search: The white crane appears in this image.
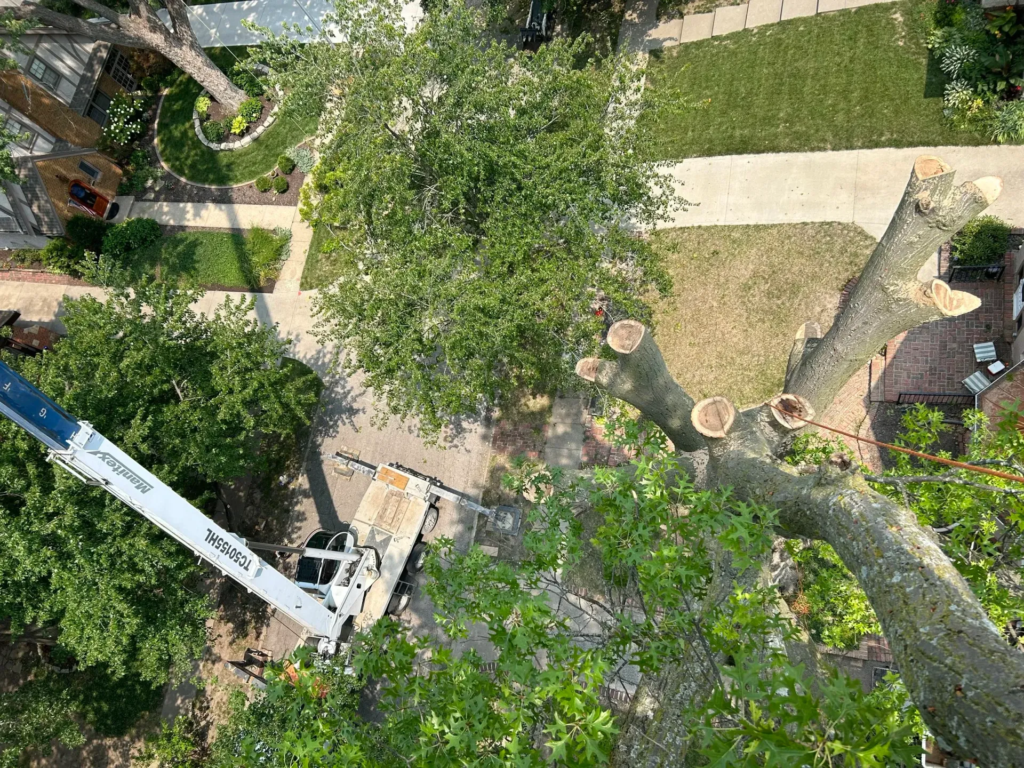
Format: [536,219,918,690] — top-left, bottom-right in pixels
[0,363,500,759]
